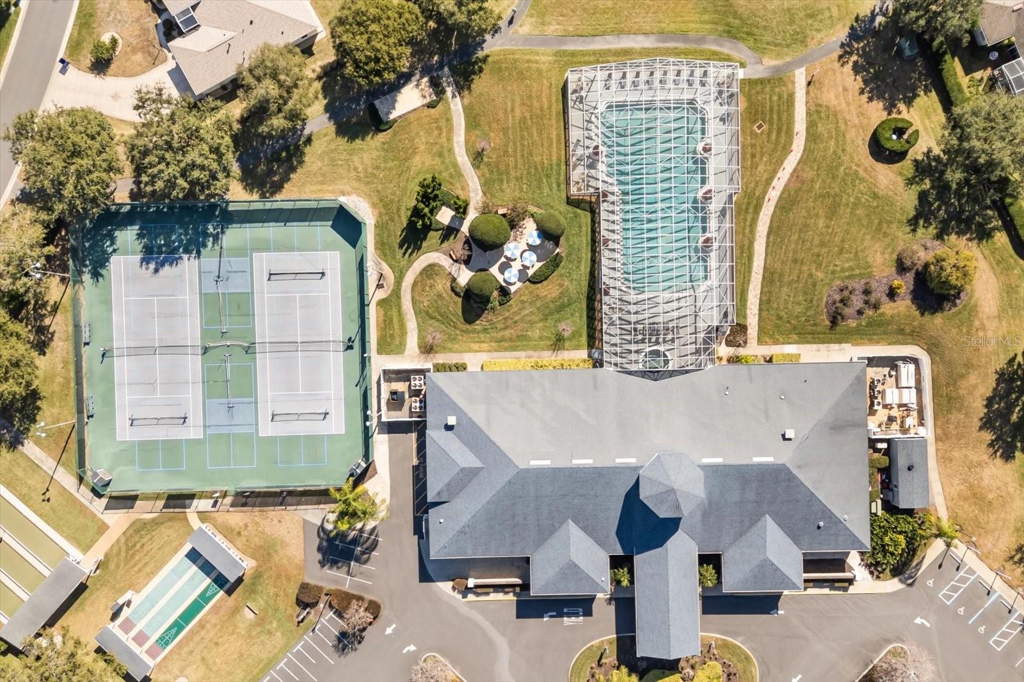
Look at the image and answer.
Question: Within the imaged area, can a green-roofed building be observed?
No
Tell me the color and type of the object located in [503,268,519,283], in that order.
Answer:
white umbrella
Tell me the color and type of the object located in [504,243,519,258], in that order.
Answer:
white umbrella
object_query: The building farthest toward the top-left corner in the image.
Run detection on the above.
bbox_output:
[164,0,318,98]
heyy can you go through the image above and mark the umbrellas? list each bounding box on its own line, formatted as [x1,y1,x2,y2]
[527,231,542,245]
[503,268,519,283]
[504,243,519,258]
[521,251,536,266]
